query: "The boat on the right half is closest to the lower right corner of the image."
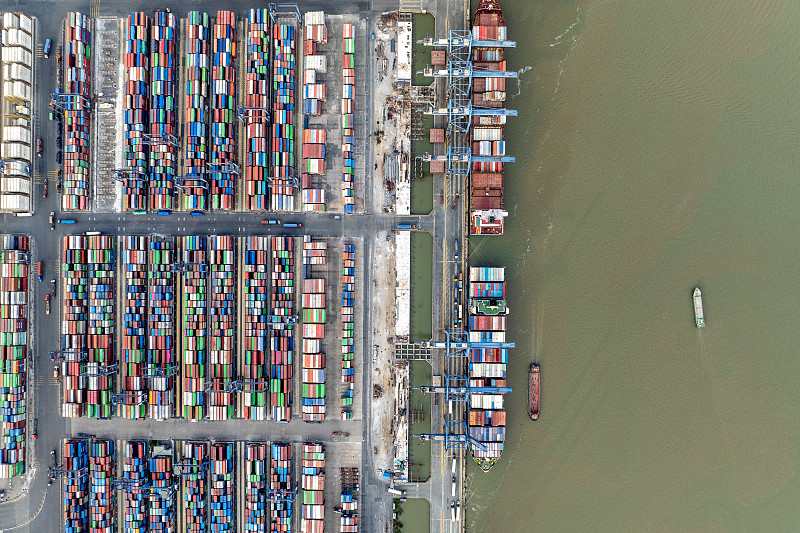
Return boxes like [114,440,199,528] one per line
[691,288,705,327]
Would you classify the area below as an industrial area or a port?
port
